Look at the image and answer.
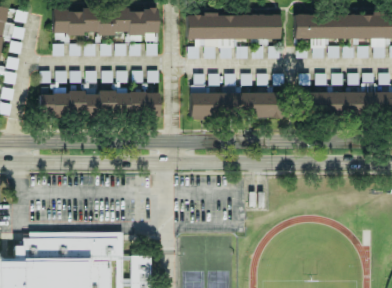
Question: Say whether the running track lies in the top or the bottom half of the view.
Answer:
bottom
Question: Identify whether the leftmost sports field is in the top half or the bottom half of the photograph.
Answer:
bottom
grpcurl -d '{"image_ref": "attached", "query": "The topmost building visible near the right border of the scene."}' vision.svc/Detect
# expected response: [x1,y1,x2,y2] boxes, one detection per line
[295,13,392,38]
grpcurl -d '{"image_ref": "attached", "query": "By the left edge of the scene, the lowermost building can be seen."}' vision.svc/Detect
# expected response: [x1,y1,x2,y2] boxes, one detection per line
[0,232,132,288]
